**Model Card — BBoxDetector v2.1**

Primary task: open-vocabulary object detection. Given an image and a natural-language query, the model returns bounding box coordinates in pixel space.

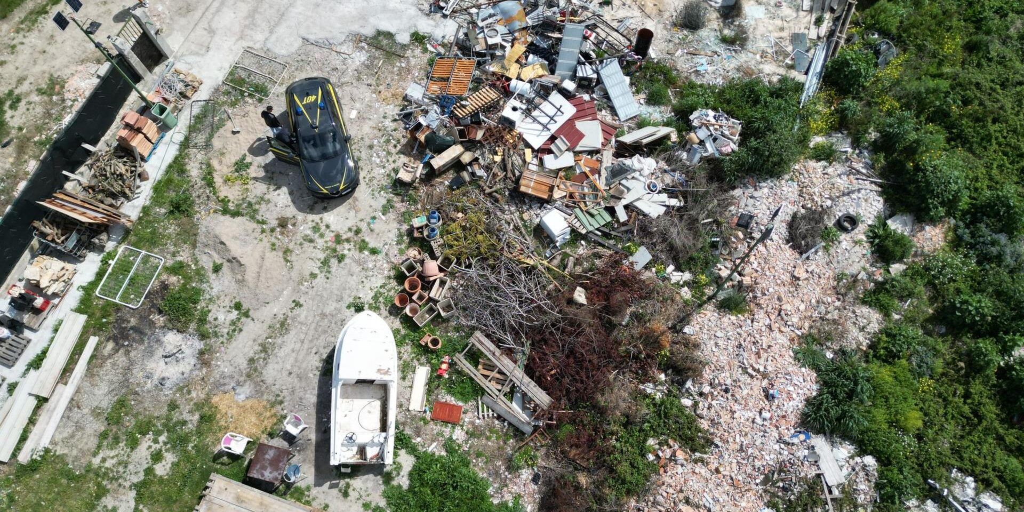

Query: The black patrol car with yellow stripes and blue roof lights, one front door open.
[268,75,361,199]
